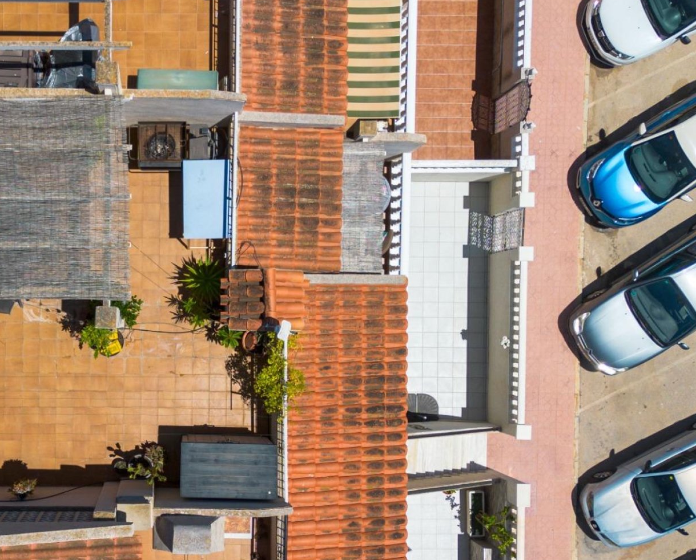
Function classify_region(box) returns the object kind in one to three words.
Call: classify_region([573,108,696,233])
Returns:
car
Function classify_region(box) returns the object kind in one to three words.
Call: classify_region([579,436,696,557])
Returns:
car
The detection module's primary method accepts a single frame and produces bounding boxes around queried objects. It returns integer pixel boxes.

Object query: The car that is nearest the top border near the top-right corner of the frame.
[579,0,696,67]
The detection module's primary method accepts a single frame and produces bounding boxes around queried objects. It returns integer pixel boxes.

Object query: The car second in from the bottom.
[563,242,696,381]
